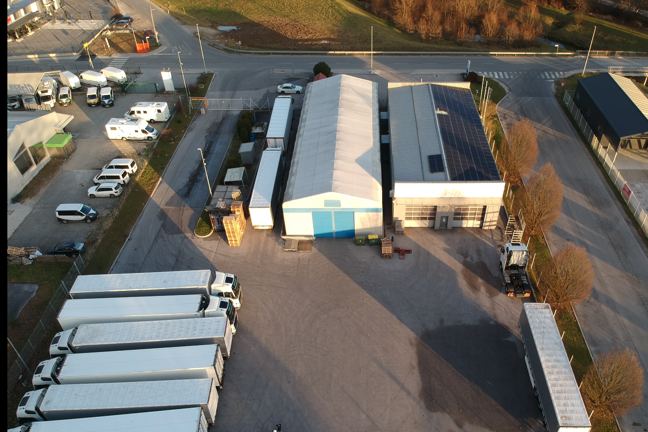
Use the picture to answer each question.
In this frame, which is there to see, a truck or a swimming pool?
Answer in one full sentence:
Visible in the photo is a truck.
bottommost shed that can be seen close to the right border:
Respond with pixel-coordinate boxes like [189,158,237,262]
[572,70,648,168]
